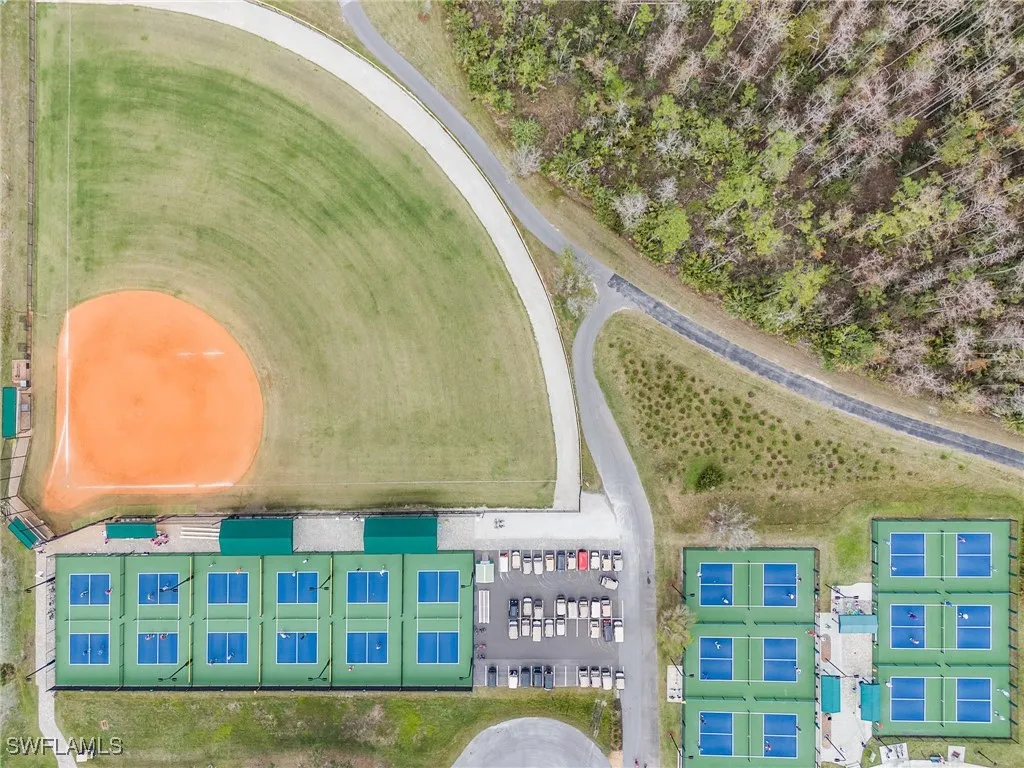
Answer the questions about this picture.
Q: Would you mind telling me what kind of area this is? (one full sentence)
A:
The picture captures a sports ground.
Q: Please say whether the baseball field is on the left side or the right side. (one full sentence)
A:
The baseball field sits on the left side.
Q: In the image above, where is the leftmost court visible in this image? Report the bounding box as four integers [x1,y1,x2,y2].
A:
[55,556,124,687]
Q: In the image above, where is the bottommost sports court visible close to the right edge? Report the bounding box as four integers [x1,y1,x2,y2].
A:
[879,666,1010,736]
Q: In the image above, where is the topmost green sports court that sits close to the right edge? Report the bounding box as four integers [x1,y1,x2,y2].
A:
[879,521,1010,592]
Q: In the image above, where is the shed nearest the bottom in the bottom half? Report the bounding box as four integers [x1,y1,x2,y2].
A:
[475,558,494,585]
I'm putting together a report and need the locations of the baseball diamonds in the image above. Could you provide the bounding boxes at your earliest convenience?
[19,0,585,537]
